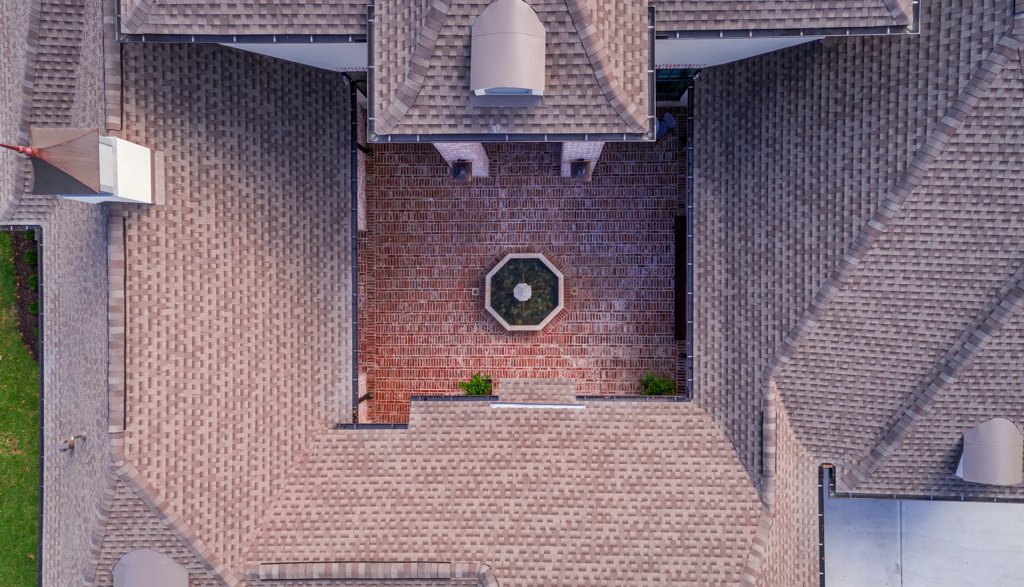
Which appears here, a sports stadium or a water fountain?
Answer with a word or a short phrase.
water fountain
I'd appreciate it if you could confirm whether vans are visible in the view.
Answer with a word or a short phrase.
No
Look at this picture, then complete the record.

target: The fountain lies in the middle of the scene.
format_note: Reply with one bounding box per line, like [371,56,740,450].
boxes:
[485,252,564,331]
